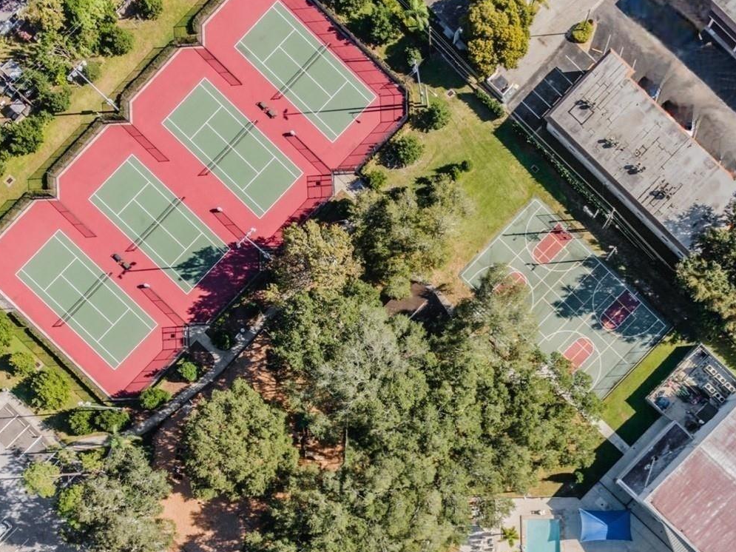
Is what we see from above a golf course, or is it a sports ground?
sports ground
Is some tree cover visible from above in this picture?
Yes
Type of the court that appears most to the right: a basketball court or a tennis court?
basketball court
